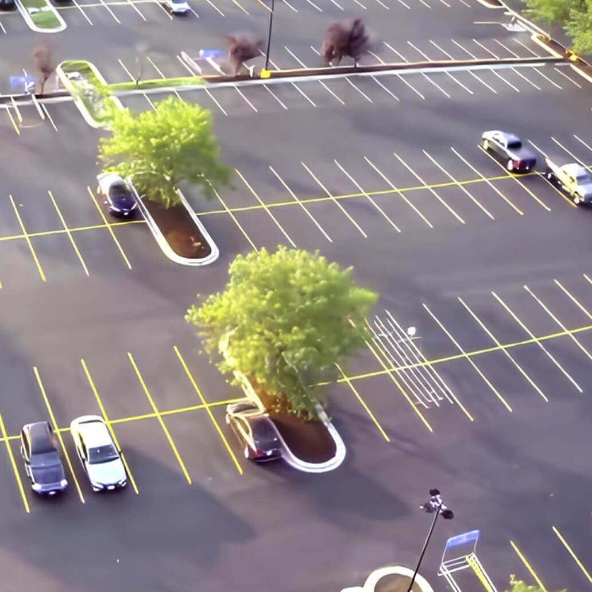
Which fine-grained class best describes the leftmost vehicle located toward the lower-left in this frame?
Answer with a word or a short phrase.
car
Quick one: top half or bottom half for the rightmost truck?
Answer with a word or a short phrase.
top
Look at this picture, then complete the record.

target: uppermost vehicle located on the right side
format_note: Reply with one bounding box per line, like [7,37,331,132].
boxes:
[480,129,536,172]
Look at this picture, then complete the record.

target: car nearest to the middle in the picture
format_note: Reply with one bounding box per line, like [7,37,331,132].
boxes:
[226,401,280,461]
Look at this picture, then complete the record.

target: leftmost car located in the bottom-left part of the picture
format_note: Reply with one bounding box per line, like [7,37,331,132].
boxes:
[16,420,66,494]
